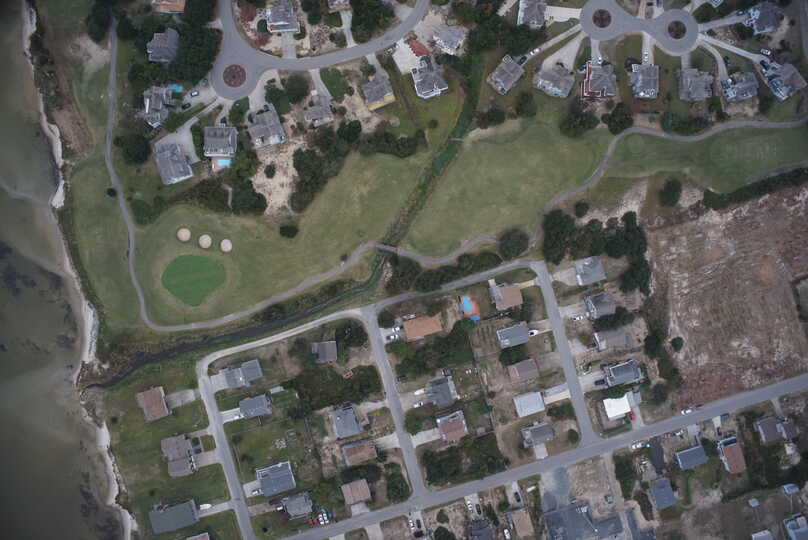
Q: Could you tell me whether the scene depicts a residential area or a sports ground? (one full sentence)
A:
The area seen from above is a residential area.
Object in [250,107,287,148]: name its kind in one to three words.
house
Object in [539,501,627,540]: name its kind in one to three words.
building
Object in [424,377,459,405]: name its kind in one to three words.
house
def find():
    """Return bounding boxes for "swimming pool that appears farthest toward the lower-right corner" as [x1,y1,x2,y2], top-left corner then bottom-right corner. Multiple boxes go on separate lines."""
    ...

[462,295,480,317]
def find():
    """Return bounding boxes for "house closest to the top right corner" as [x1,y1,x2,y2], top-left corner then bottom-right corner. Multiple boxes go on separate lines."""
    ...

[744,2,784,39]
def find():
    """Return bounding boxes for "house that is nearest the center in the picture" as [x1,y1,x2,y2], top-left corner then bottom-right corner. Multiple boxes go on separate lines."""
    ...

[404,313,442,339]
